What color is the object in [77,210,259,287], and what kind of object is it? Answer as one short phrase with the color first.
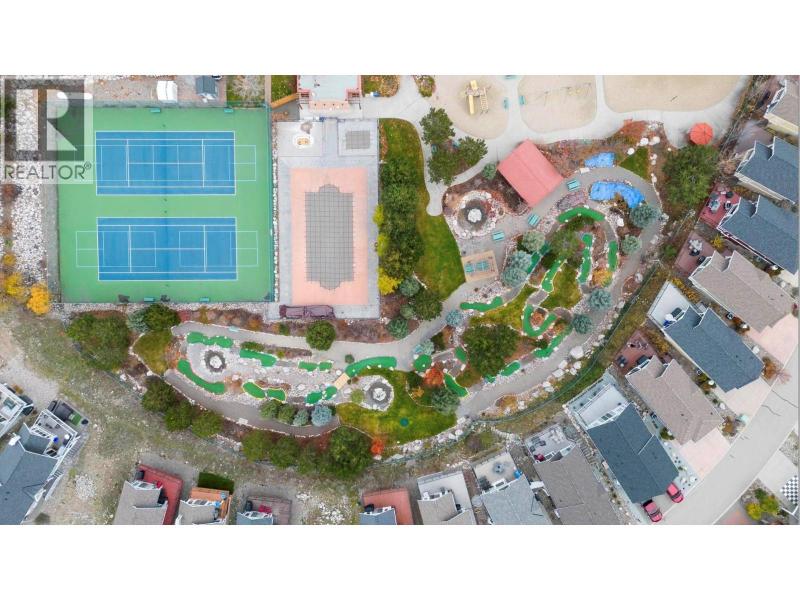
blue tennis court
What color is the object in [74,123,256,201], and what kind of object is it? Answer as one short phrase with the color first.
blue tennis court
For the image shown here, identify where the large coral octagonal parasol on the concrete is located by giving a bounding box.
[691,123,713,145]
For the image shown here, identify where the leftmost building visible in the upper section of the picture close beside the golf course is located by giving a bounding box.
[495,138,564,209]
